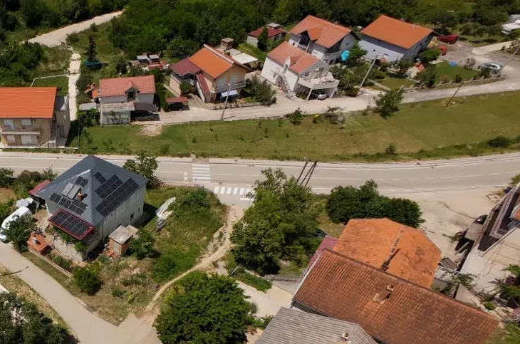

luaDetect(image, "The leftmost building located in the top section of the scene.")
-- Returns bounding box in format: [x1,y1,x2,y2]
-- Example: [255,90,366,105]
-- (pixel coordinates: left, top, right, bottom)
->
[0,88,70,150]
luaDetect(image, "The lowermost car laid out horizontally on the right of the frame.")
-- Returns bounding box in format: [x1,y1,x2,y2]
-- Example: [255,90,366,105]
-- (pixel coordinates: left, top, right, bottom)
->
[307,88,333,100]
